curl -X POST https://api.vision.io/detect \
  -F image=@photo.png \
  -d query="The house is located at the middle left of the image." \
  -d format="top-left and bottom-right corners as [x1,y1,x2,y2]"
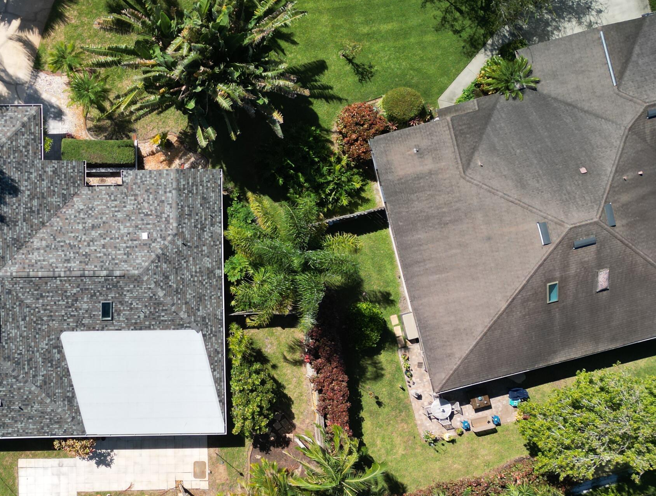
[0,103,229,440]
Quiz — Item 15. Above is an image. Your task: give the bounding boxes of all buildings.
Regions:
[367,9,656,396]
[0,103,229,440]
